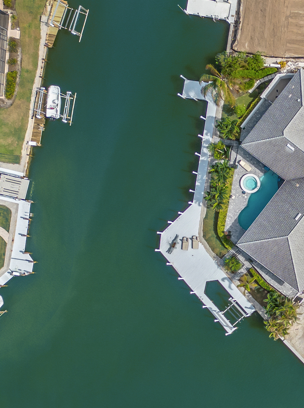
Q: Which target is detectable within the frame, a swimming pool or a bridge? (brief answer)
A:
swimming pool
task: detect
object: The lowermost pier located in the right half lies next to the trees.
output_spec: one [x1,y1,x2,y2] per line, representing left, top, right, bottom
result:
[154,75,256,336]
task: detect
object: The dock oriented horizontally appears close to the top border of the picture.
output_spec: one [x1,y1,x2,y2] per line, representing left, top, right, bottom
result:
[178,0,234,24]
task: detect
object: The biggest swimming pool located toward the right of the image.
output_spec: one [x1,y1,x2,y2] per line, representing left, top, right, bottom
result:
[238,171,284,229]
